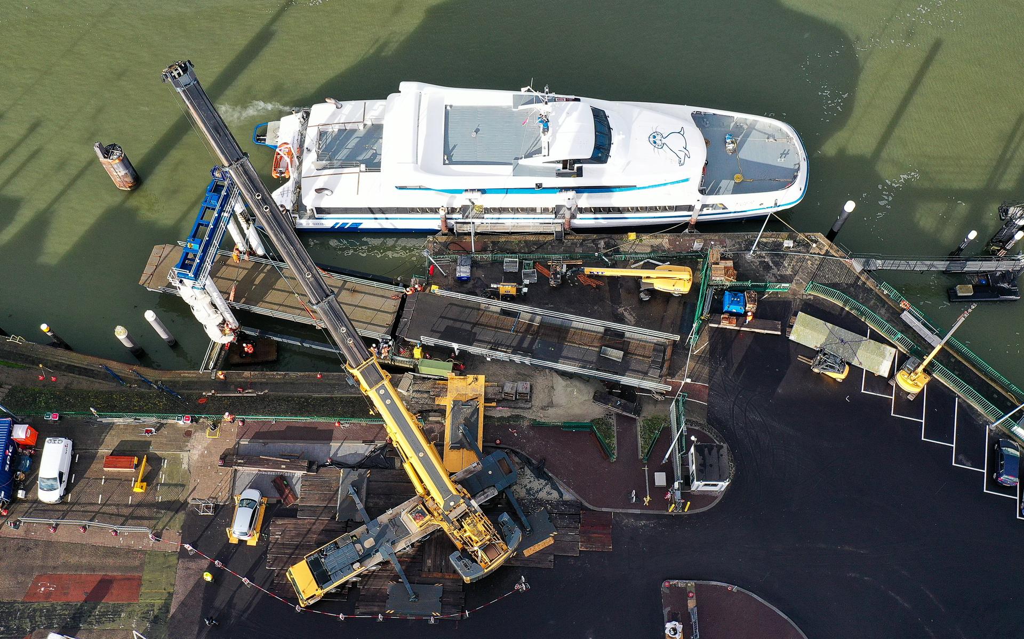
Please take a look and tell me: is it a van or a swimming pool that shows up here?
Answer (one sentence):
The one in the frame is a van.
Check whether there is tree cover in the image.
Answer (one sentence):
No, the scene doesn't show any tree cover.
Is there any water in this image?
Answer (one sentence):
Yes, there's water in this view.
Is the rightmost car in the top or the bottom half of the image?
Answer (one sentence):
Seen from above, the rightmost car lies in the bottom half of the view.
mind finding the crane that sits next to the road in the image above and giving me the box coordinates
[156,55,547,618]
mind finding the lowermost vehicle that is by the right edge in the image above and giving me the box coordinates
[995,435,1024,492]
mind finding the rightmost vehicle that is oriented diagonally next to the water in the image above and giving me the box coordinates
[897,306,977,397]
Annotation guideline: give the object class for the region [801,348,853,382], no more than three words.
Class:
work vehicle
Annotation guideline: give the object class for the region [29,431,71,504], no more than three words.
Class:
van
